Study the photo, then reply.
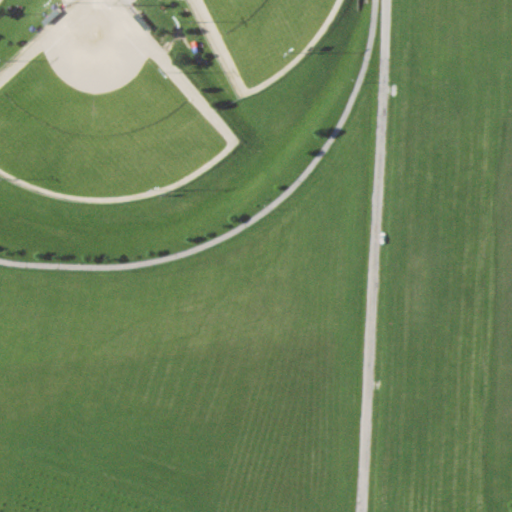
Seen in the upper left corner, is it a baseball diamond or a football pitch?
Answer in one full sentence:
There is a baseball diamond in the upper left corner.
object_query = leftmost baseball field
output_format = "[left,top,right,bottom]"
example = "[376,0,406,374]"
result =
[0,0,239,203]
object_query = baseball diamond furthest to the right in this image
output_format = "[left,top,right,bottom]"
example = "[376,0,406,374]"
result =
[187,0,344,99]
